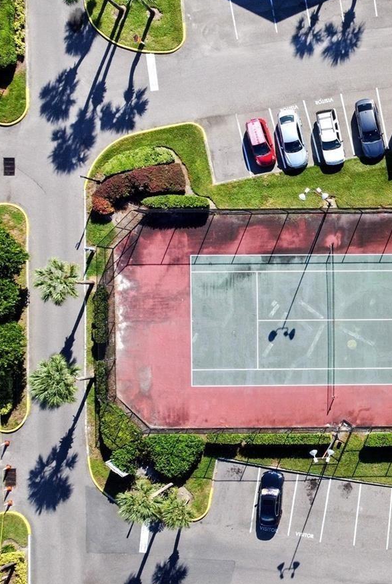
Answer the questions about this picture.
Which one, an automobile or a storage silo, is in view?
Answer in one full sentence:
It is an automobile that can be seen here.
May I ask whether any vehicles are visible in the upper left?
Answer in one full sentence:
No, looking in the upper left, there is no vehicle.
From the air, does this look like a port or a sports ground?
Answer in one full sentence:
This looks like a sports ground.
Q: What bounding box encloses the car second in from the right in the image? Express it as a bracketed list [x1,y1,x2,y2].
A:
[316,108,347,166]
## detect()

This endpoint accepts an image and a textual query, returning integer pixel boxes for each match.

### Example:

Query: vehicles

[246,117,279,170]
[255,469,284,527]
[356,99,387,161]
[316,108,347,166]
[277,110,312,170]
